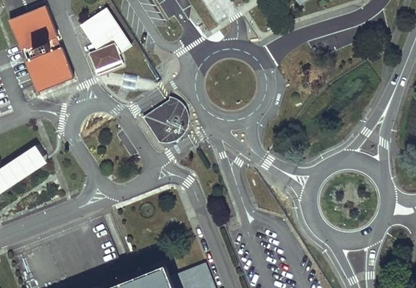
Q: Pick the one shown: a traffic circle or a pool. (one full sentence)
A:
The image shows a traffic circle.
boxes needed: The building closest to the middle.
[144,98,188,143]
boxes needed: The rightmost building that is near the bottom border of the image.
[178,262,216,288]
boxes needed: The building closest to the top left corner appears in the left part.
[8,4,74,93]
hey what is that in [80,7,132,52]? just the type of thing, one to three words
building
